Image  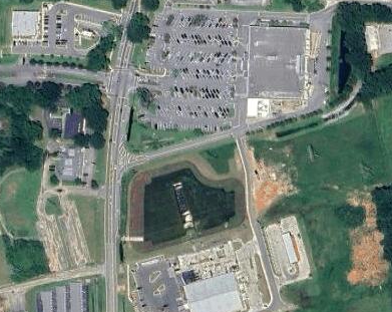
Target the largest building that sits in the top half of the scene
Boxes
[245,25,314,101]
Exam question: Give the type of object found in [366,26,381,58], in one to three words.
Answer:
building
